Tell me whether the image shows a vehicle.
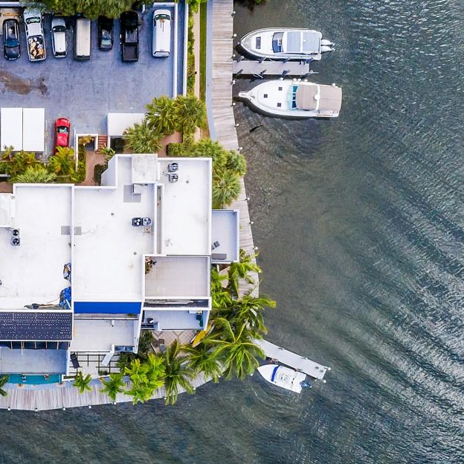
Yes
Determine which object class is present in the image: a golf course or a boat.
boat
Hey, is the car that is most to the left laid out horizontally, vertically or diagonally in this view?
vertically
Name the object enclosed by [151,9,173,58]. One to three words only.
vehicle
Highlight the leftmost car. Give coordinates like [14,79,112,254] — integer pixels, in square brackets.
[1,19,21,62]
